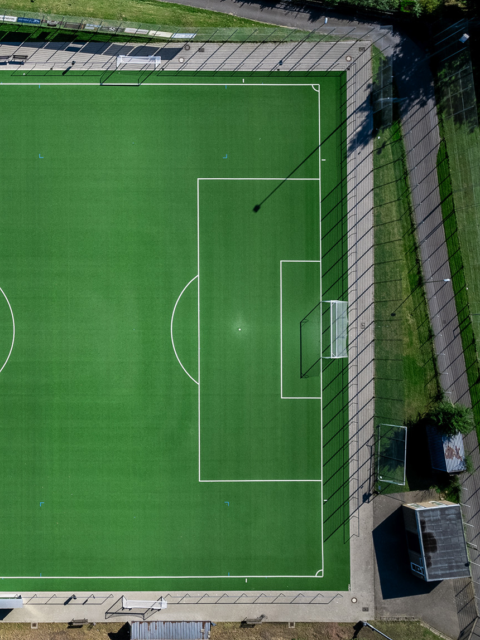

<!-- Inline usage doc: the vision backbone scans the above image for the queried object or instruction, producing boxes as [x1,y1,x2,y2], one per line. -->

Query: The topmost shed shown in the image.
[428,430,465,473]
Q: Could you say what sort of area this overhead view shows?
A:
sports ground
